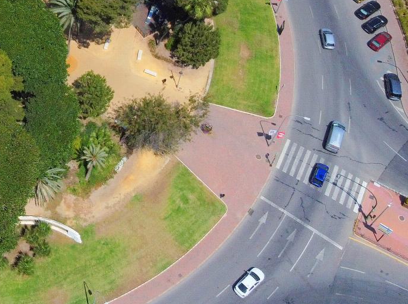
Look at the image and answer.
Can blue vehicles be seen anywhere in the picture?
Yes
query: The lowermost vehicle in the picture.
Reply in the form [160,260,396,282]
[232,265,264,301]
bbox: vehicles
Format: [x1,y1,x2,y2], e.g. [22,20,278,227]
[318,26,336,53]
[359,14,389,35]
[365,31,396,52]
[324,121,347,156]
[232,265,264,301]
[308,159,330,193]
[354,0,382,20]
[381,73,403,102]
